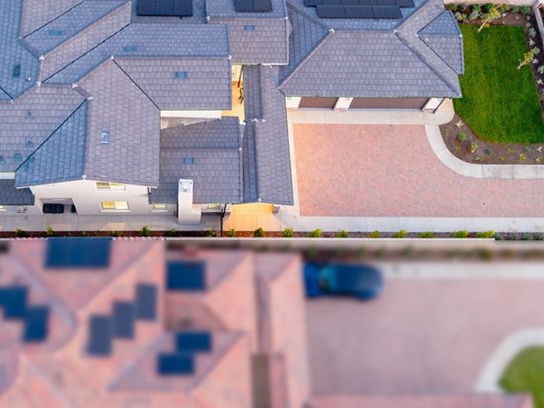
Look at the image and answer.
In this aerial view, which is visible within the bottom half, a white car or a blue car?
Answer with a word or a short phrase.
blue car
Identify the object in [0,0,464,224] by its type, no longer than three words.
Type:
house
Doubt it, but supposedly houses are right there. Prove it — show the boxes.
[0,236,533,408]
[0,0,464,224]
